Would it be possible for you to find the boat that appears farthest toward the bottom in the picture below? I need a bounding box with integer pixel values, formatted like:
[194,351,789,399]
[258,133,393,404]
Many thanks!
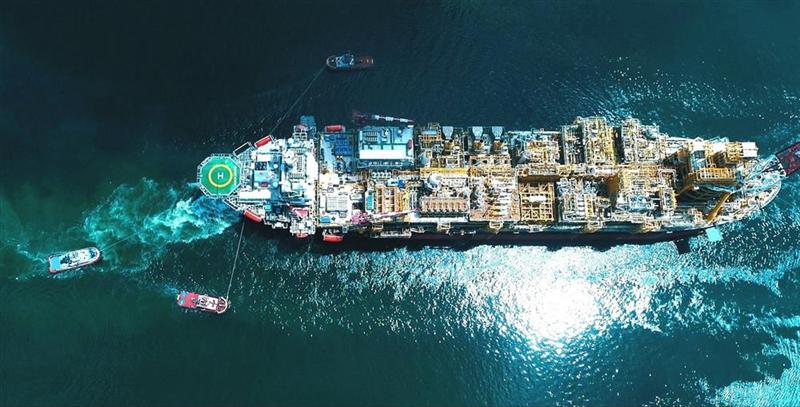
[173,288,226,311]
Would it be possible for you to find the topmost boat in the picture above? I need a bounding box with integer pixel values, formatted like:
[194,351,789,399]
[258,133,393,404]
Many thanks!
[328,50,372,68]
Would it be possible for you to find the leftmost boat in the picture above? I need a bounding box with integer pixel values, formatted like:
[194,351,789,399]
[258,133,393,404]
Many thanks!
[45,247,98,273]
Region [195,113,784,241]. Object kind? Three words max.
ship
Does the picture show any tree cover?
No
